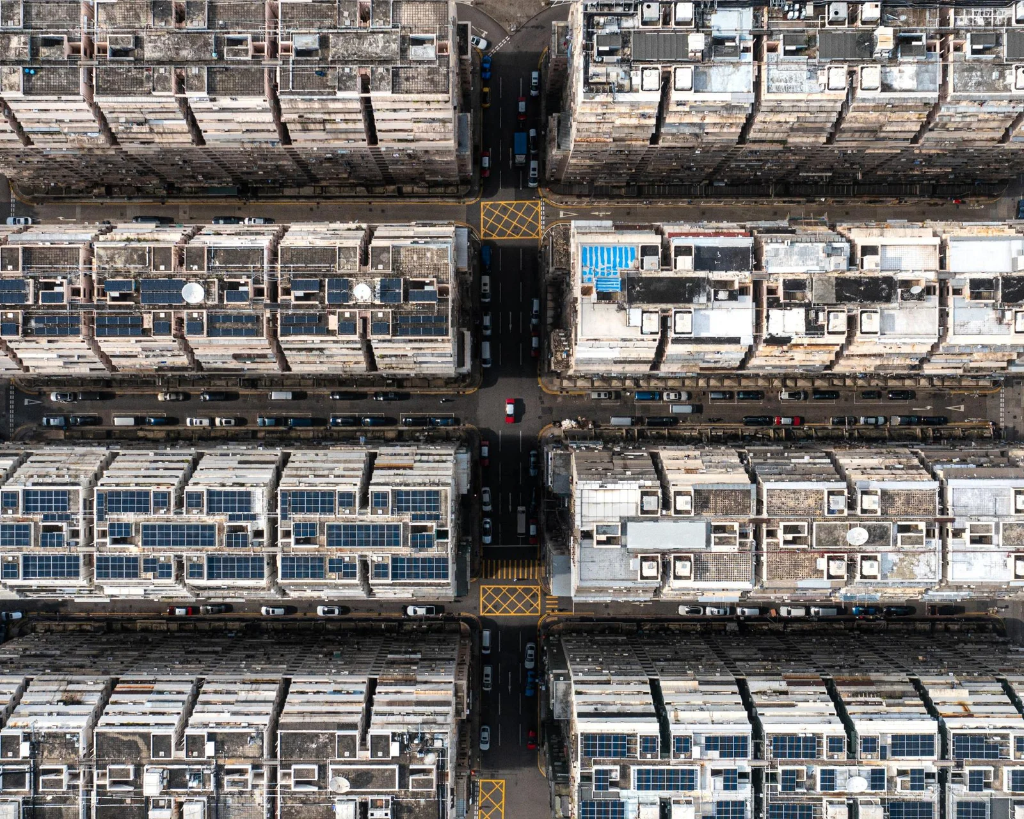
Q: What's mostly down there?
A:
buildings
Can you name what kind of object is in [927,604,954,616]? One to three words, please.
vehicle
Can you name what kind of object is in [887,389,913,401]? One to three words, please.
vehicle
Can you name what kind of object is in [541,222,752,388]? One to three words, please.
building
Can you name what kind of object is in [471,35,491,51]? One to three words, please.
car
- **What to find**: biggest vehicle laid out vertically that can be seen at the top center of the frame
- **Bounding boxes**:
[514,129,527,167]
